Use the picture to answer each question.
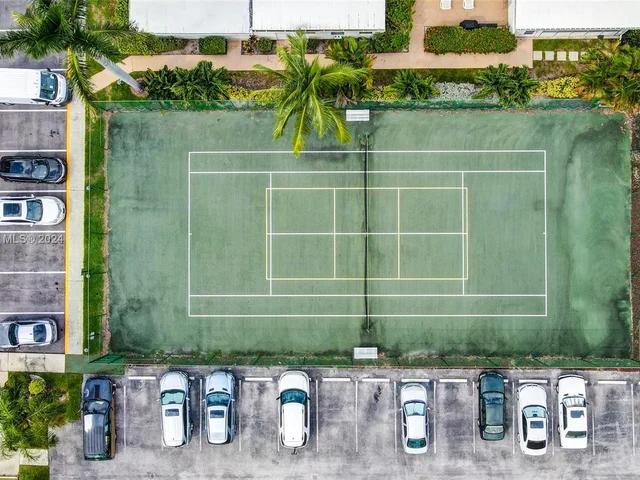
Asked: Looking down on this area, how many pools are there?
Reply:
0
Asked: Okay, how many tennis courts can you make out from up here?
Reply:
1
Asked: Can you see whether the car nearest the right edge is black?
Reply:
No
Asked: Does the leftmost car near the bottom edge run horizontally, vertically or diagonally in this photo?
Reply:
vertically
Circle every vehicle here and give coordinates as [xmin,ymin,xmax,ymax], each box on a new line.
[2,152,68,187]
[515,383,551,455]
[0,64,71,106]
[276,371,314,449]
[157,371,193,445]
[200,371,238,444]
[478,371,509,440]
[553,374,590,448]
[0,318,58,352]
[399,382,432,453]
[0,192,67,229]
[79,376,118,459]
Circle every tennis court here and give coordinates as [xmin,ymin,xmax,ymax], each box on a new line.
[106,110,632,357]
